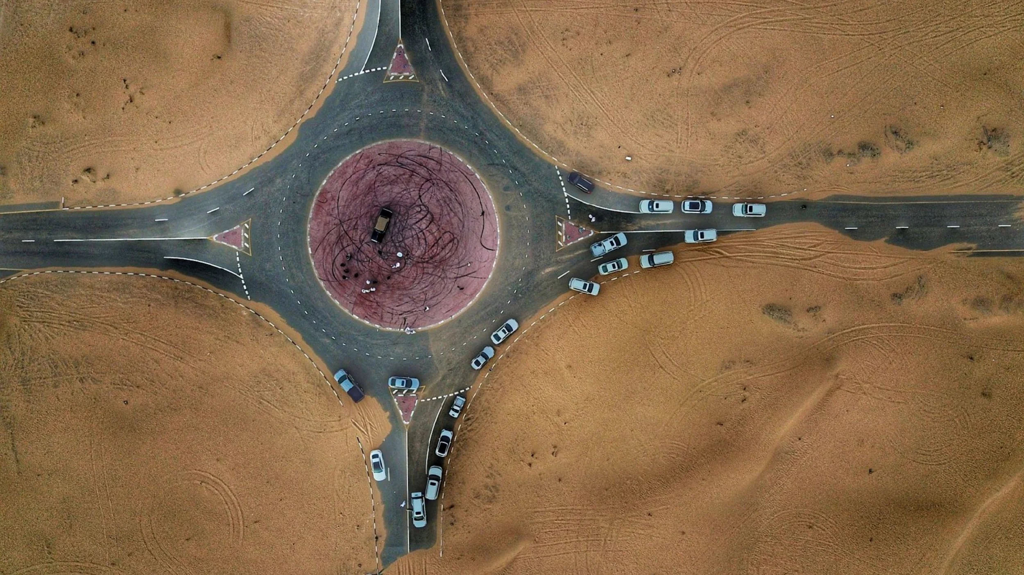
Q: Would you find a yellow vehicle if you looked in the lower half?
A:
No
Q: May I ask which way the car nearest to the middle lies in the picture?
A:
on a diagonal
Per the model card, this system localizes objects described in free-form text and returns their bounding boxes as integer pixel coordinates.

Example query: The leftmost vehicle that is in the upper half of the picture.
[371,207,391,242]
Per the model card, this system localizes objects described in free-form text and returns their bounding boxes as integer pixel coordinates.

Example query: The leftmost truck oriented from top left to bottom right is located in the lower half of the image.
[332,369,365,406]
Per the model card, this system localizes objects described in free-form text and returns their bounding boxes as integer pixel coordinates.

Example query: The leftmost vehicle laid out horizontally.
[387,377,419,392]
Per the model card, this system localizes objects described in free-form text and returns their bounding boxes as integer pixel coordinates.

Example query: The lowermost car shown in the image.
[405,494,426,530]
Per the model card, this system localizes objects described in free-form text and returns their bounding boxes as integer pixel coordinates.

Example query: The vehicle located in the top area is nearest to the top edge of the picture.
[566,170,597,194]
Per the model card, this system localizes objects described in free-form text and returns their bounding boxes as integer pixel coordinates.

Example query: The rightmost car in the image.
[734,201,769,217]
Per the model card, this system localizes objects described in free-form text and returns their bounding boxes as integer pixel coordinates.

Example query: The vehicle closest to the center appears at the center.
[488,317,520,347]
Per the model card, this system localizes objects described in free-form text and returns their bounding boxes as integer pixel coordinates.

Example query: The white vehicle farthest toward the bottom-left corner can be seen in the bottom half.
[368,450,386,483]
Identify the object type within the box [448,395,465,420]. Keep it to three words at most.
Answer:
vehicle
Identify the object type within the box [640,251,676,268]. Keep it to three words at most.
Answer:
car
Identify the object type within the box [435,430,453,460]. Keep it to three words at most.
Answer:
car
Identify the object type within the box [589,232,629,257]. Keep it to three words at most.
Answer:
truck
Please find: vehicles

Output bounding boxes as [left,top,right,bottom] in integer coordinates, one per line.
[734,201,769,217]
[435,430,453,460]
[640,251,676,268]
[683,198,714,213]
[332,369,365,406]
[371,207,391,242]
[598,257,629,275]
[424,466,442,503]
[640,198,675,213]
[448,395,465,420]
[488,317,520,347]
[470,346,496,373]
[368,450,386,483]
[405,494,426,530]
[589,232,629,257]
[566,170,597,194]
[568,277,601,295]
[685,228,720,243]
[387,377,419,392]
